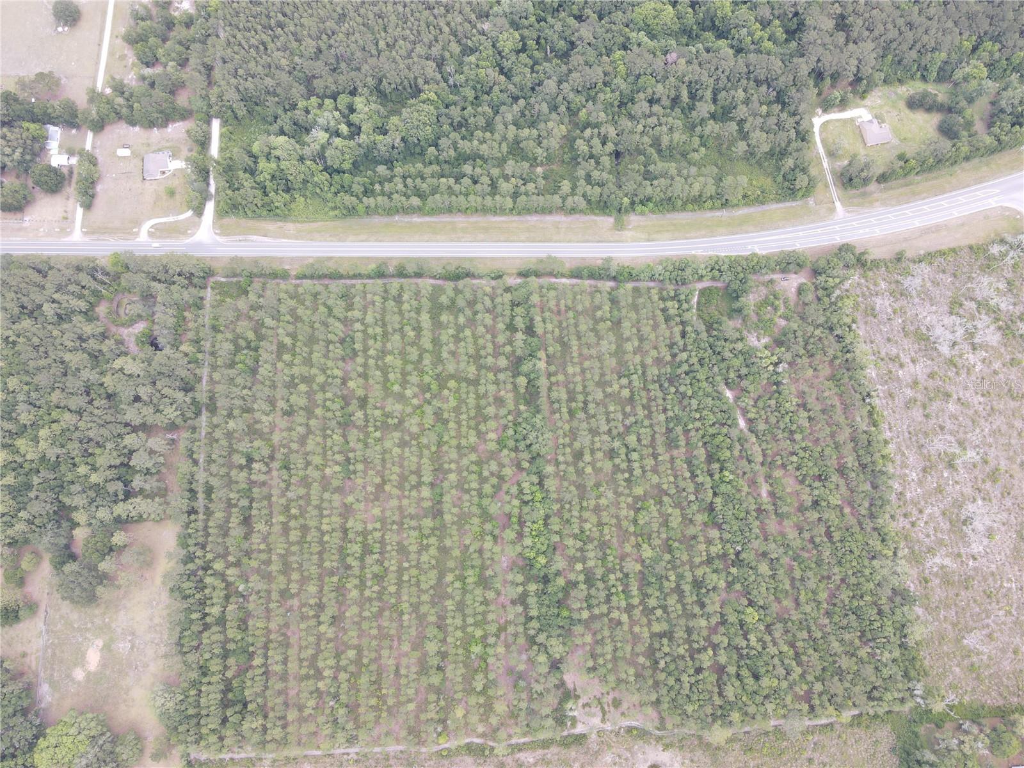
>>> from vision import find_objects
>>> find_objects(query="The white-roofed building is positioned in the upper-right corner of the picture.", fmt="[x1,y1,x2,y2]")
[857,113,894,148]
